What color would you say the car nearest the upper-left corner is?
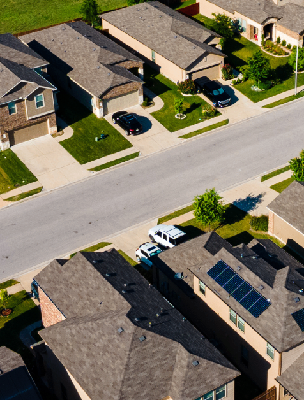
black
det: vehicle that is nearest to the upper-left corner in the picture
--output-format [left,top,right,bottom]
[109,109,142,133]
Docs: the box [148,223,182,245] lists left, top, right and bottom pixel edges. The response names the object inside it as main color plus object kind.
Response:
white car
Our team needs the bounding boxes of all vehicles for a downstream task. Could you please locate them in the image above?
[148,223,182,245]
[136,245,157,278]
[34,284,43,302]
[197,76,236,104]
[109,109,142,133]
